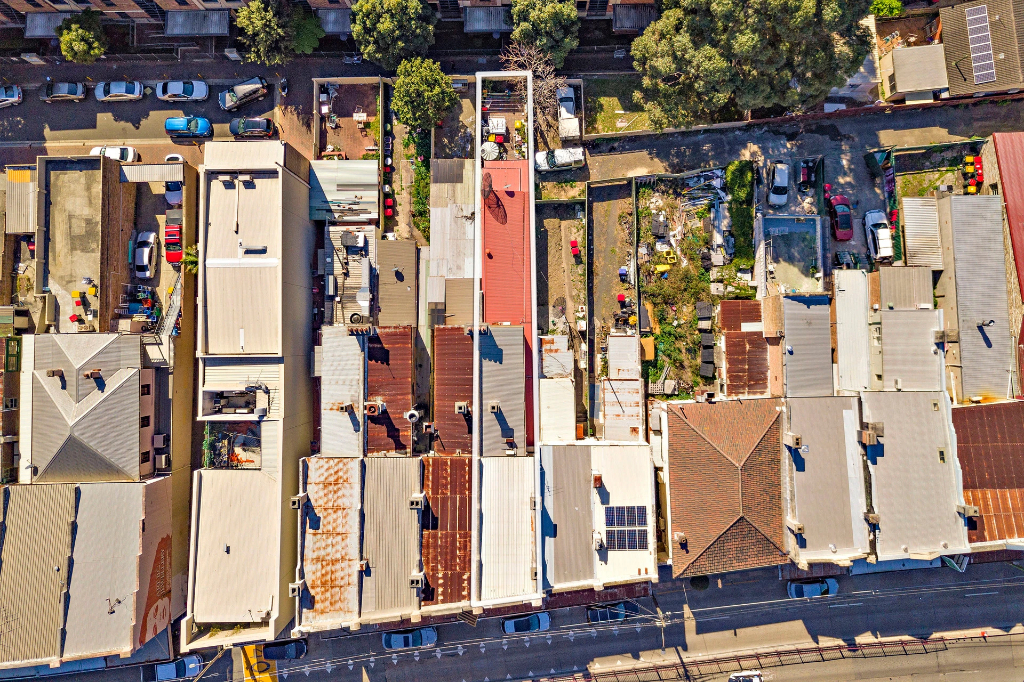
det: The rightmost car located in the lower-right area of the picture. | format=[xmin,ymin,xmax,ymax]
[787,577,839,602]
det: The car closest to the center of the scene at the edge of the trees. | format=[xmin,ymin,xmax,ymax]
[535,147,586,172]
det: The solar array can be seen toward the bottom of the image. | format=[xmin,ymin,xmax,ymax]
[605,507,647,550]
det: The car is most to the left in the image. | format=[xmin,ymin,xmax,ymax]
[0,84,28,107]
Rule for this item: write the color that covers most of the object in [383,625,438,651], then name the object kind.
blue car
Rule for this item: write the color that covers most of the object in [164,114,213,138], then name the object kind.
blue car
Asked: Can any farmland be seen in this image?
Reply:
No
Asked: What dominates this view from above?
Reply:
buildings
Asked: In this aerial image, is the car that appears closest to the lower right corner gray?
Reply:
No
